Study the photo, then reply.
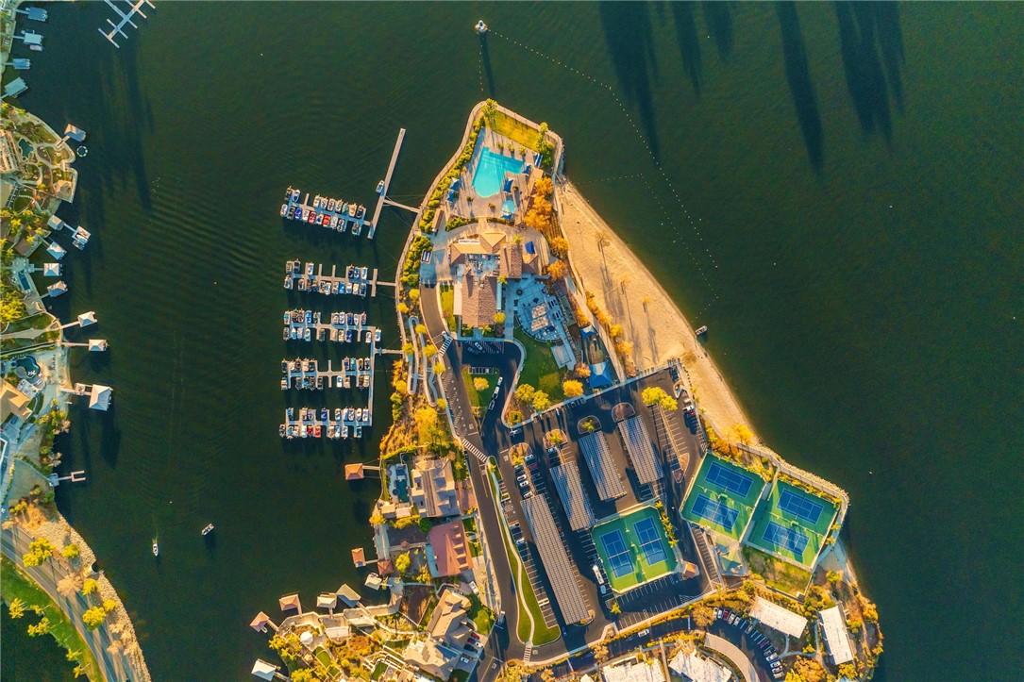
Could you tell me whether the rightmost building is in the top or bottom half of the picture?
bottom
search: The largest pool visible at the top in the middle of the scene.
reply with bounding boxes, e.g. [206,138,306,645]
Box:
[472,147,523,198]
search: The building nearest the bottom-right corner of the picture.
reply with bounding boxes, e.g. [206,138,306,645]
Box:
[814,605,853,665]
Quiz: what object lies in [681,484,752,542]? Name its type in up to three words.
tennis court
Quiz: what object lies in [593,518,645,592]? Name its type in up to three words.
tennis court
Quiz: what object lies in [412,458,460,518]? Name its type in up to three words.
house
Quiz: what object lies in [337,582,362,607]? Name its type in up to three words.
building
